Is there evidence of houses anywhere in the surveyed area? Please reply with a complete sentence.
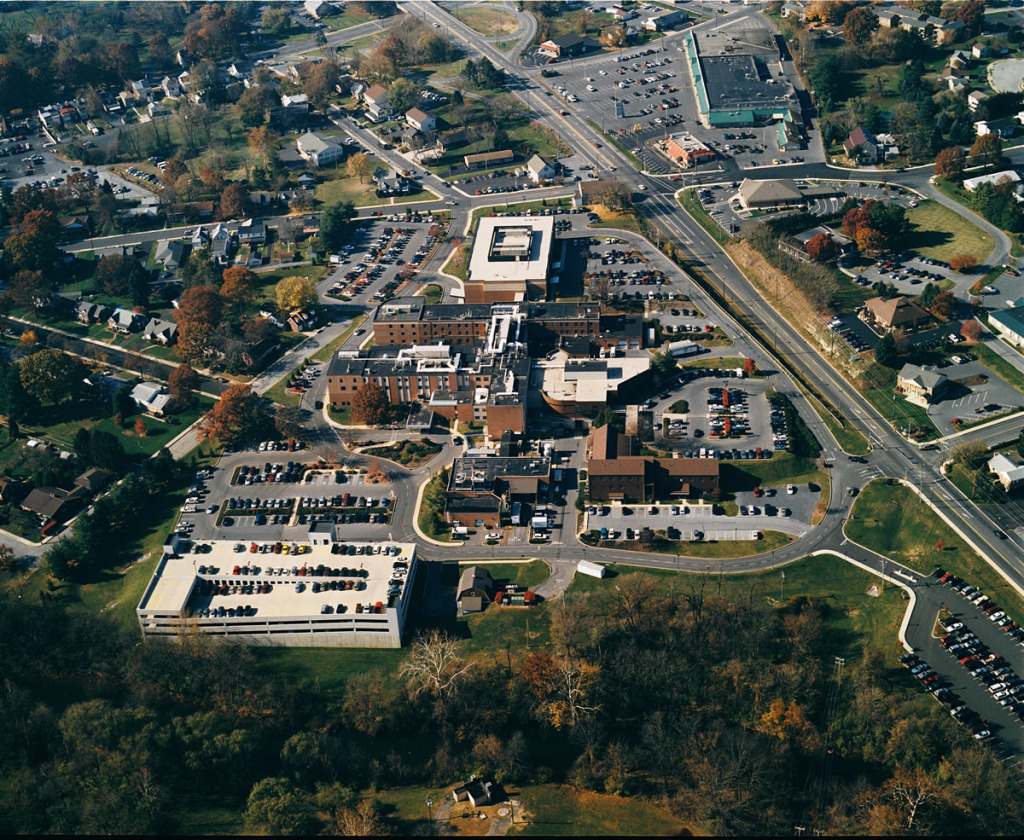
Yes, the photo shows a house.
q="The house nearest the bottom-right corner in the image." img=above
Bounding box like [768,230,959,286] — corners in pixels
[982,457,1024,497]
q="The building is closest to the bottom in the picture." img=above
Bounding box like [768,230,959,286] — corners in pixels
[452,774,491,808]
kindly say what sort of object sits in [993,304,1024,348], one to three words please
building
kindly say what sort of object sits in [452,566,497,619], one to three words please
barn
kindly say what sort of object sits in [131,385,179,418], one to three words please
house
